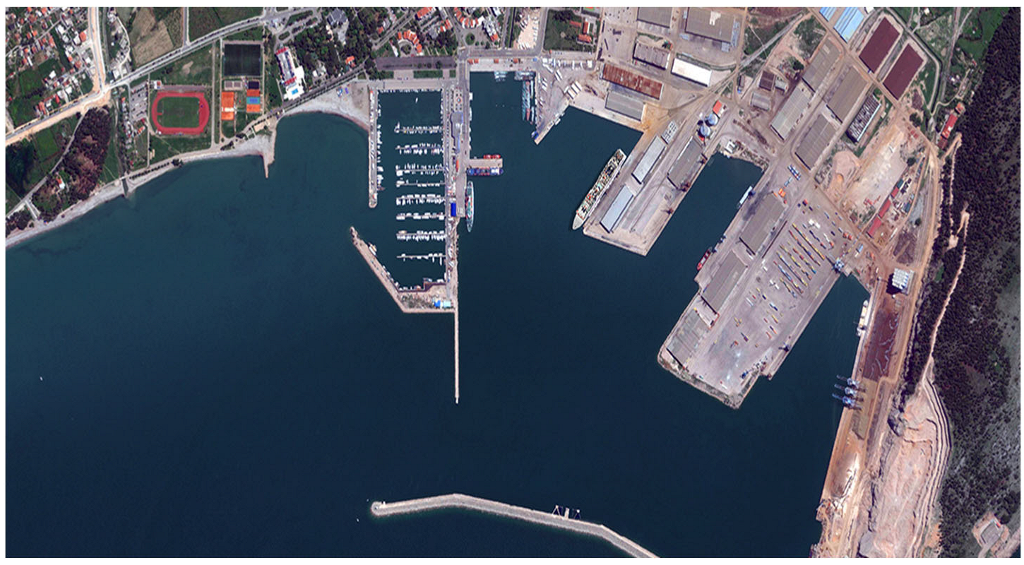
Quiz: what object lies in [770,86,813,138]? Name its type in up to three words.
building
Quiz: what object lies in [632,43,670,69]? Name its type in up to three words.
shed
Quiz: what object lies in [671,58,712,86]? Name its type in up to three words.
building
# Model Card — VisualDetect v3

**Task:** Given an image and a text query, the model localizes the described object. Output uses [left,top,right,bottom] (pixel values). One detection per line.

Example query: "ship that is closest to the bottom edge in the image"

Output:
[857,300,869,336]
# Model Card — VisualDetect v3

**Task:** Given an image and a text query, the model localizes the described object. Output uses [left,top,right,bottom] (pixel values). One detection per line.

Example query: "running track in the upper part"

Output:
[151,90,209,136]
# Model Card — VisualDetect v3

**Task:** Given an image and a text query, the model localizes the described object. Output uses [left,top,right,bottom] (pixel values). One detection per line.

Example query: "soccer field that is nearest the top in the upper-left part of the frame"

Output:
[222,41,263,77]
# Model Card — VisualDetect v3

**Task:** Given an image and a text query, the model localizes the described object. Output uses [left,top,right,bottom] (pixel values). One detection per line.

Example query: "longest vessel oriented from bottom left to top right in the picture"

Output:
[573,149,627,229]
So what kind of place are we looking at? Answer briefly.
port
